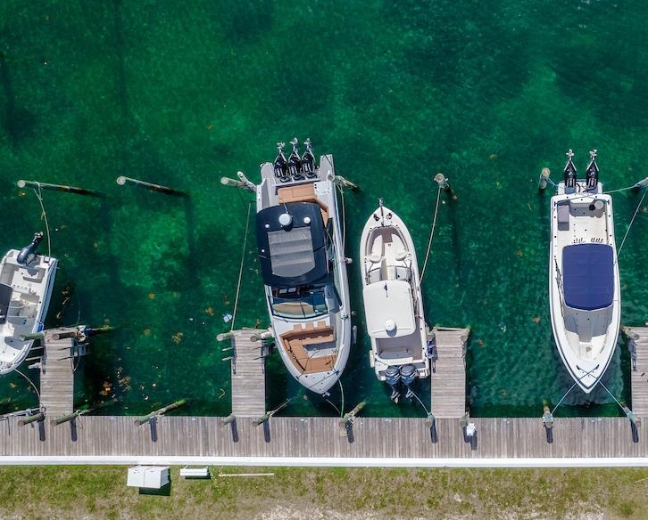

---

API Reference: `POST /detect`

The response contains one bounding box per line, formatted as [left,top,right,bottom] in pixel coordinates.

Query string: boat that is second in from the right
[360,196,431,399]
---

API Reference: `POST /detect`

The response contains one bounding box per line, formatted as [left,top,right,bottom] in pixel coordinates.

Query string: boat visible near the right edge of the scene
[549,151,622,394]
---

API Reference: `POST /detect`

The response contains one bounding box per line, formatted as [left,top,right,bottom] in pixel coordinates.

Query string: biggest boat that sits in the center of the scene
[257,139,357,400]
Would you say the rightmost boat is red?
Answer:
No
